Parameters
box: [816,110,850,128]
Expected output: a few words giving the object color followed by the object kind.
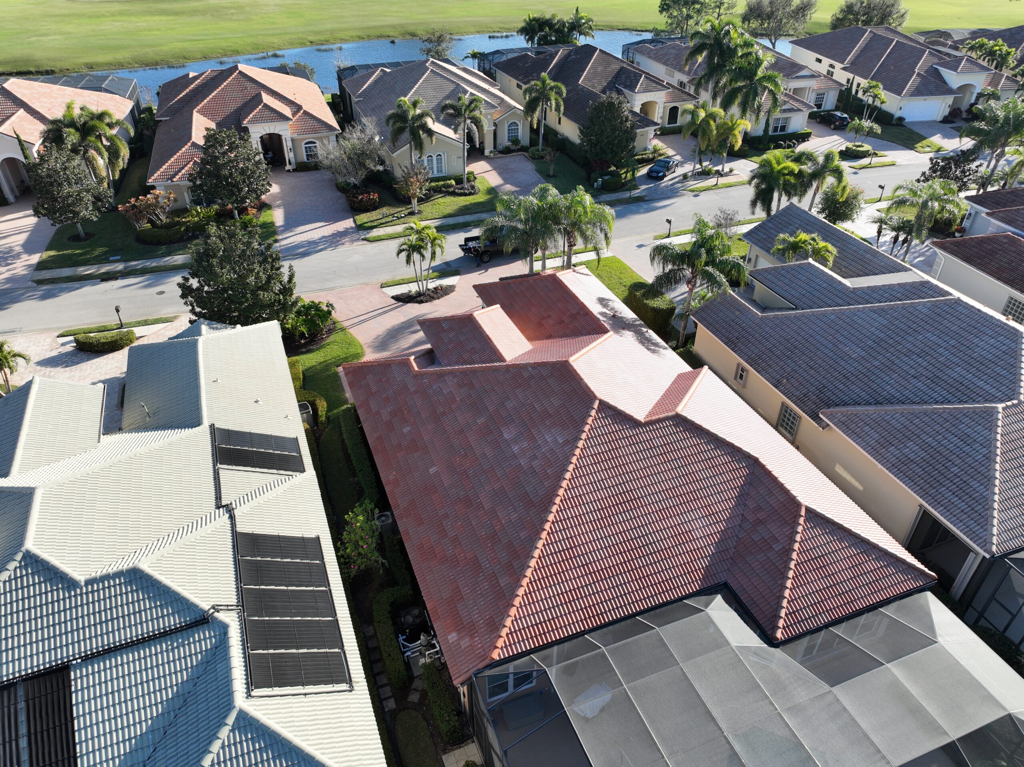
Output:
black car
